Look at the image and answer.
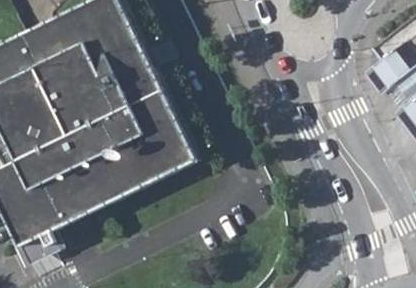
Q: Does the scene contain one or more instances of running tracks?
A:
No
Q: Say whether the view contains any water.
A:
No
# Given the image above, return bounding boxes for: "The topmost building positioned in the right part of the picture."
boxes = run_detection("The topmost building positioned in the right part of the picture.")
[373,12,416,59]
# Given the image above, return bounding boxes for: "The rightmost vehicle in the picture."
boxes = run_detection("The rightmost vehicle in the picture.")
[354,232,366,256]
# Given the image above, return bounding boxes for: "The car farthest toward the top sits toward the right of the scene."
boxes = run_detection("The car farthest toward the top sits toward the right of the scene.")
[254,0,271,24]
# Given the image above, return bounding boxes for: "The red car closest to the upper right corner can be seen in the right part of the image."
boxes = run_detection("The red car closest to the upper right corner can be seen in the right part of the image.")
[278,55,291,74]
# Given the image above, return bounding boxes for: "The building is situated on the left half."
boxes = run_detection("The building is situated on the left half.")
[0,0,196,277]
